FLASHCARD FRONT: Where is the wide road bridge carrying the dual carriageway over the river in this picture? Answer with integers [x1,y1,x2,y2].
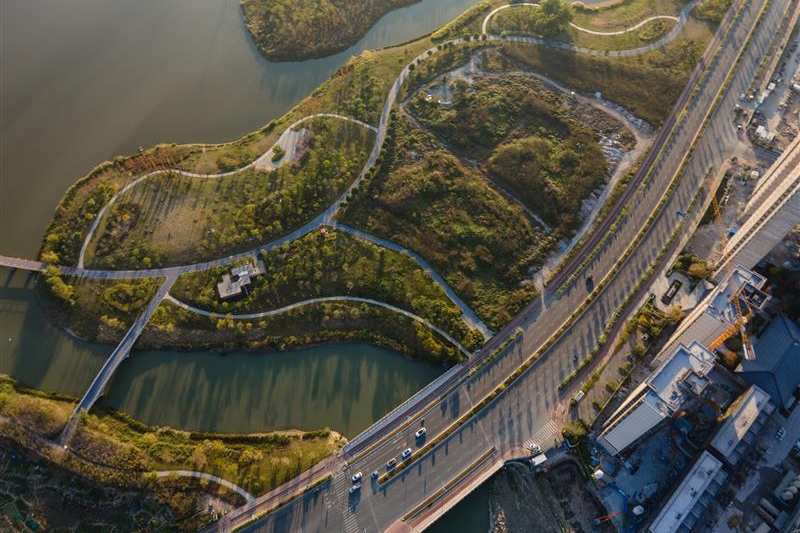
[339,365,504,533]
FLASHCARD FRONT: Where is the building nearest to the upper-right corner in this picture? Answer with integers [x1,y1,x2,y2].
[711,130,800,278]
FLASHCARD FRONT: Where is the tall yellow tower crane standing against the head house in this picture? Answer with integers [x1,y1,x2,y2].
[709,284,759,363]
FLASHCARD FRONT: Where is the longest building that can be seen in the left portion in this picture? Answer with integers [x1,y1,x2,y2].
[217,261,268,301]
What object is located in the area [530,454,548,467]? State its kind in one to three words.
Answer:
vehicle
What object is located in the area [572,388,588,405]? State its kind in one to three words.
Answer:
vehicle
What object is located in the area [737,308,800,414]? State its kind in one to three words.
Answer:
building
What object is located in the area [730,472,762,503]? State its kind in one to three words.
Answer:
shed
